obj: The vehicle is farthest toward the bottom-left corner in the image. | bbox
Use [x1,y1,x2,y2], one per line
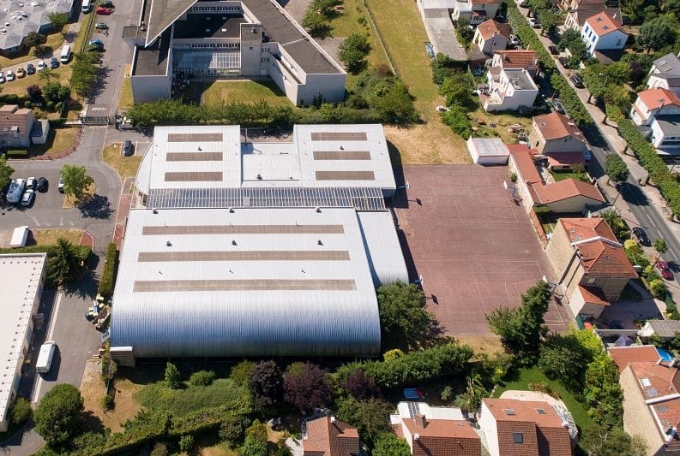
[33,341,58,379]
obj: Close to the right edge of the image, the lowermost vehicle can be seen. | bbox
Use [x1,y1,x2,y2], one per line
[654,261,676,281]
